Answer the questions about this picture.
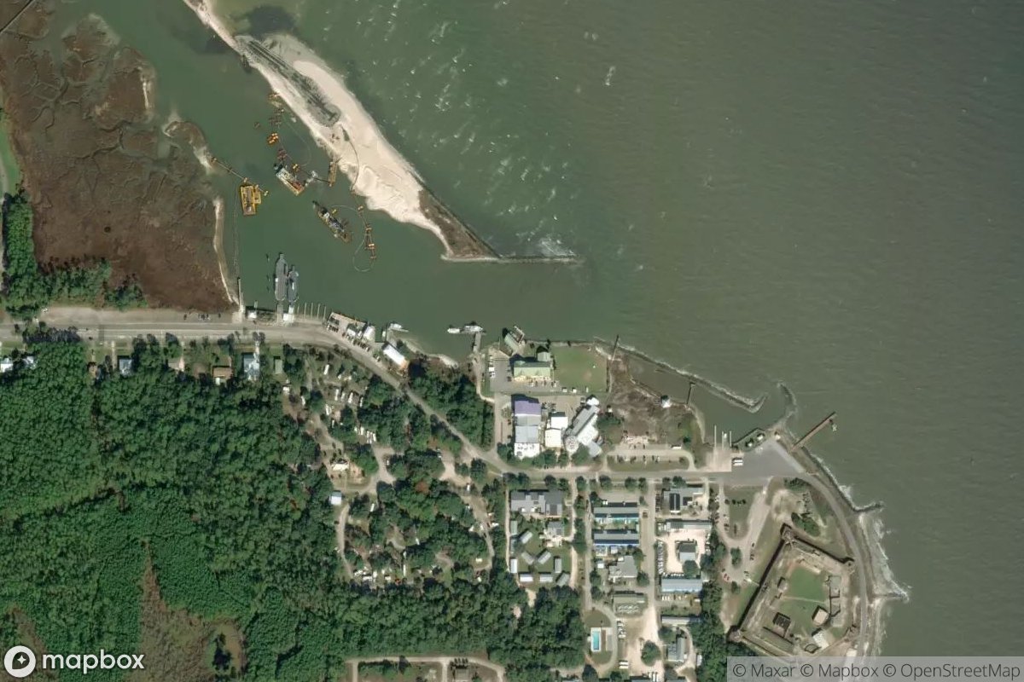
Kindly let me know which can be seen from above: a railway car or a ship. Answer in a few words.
ship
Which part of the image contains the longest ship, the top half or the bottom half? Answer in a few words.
top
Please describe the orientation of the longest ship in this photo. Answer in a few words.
on a diagonal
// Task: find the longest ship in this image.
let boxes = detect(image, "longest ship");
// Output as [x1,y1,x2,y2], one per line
[211,157,269,215]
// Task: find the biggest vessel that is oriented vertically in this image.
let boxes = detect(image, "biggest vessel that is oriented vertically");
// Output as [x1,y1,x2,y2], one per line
[274,255,286,300]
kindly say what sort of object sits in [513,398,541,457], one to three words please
building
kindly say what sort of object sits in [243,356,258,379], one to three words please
house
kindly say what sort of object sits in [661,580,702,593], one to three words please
shed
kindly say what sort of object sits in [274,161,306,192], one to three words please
ship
